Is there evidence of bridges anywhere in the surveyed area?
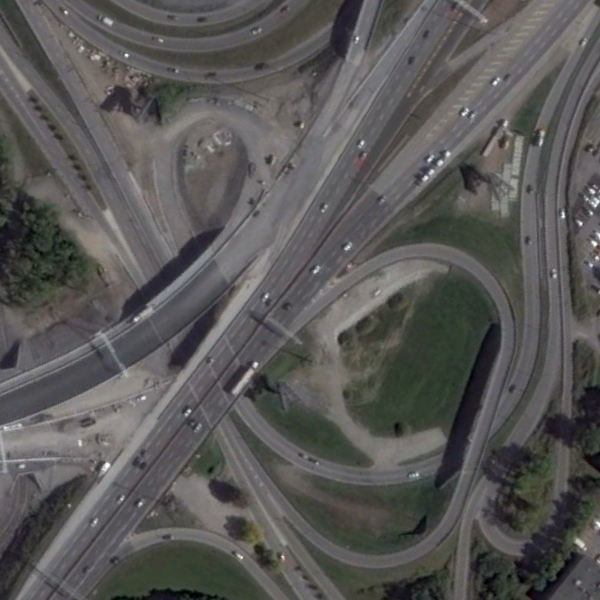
Yes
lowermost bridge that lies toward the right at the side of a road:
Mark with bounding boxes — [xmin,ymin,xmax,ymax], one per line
[449,319,516,526]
